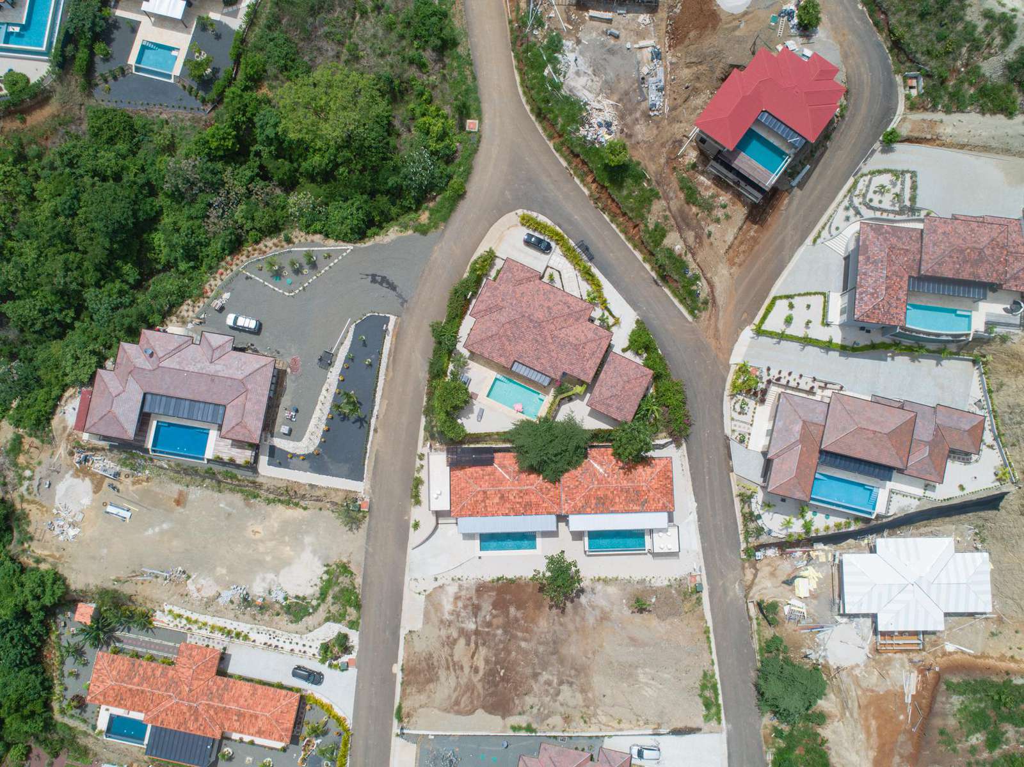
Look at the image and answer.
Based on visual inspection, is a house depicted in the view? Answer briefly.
Yes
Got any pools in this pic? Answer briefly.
Yes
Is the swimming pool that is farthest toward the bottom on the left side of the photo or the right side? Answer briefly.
left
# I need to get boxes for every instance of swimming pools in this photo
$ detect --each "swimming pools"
[146,415,215,468]
[476,531,539,554]
[733,125,792,177]
[127,33,187,85]
[0,0,61,52]
[903,301,974,336]
[481,368,553,425]
[584,529,649,557]
[803,468,882,517]
[102,709,152,749]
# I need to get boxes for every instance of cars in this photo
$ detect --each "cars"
[225,314,259,333]
[523,231,553,253]
[630,746,662,764]
[290,666,323,689]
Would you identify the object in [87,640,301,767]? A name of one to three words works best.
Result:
house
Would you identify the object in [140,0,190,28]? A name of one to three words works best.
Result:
building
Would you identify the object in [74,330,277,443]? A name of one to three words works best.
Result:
house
